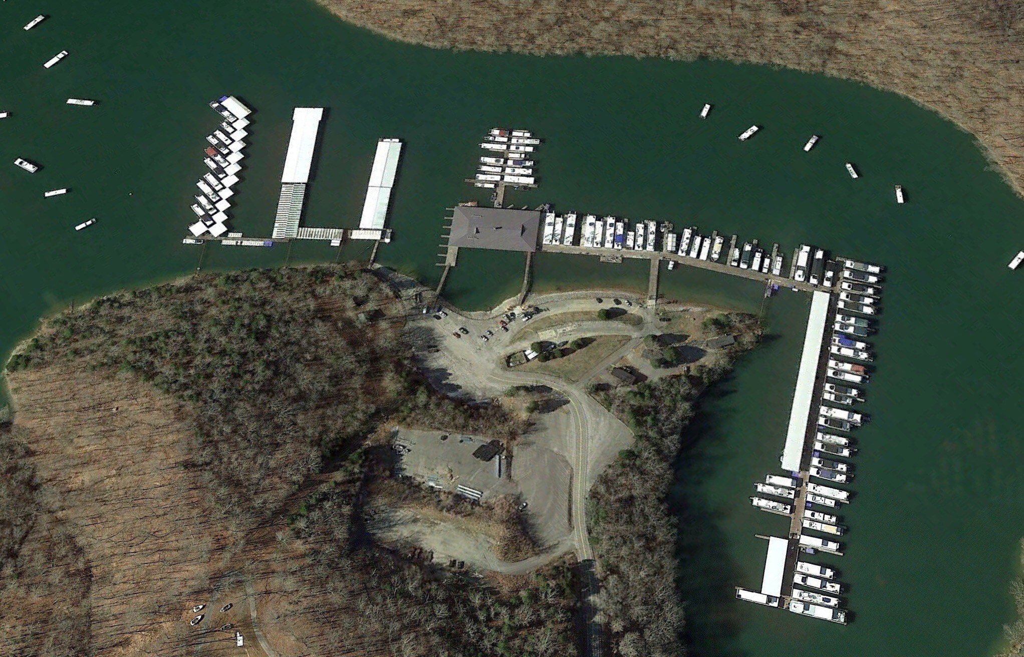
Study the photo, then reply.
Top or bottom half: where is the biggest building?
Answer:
top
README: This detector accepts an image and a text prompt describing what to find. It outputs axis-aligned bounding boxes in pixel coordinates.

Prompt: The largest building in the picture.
[448,206,541,253]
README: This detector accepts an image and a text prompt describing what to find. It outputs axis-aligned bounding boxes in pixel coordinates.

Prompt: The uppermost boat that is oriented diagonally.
[25,15,46,31]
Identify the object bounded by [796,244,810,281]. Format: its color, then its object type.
white boat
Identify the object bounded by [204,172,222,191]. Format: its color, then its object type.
white boat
